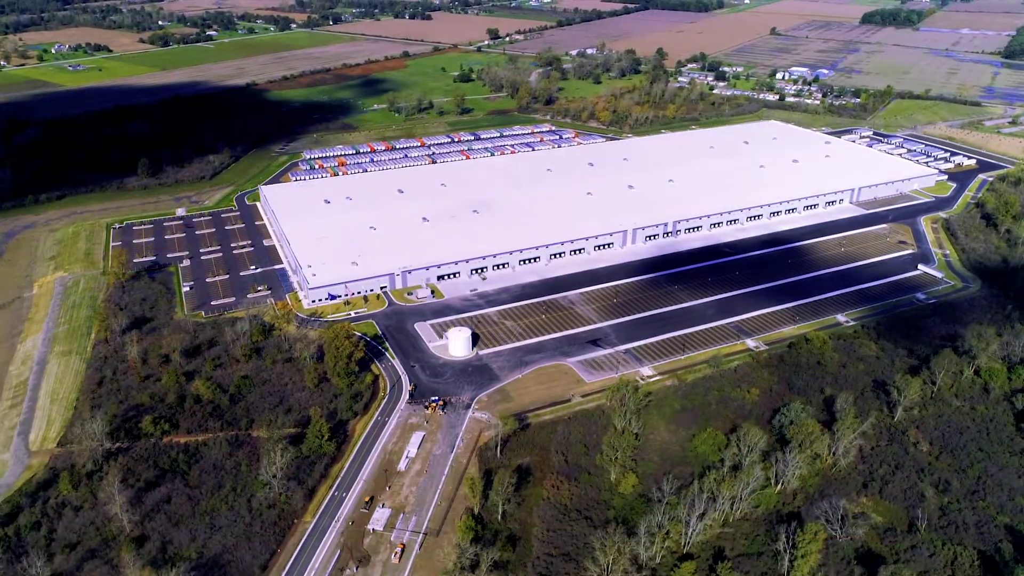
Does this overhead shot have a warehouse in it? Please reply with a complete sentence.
Yes, the photo shows a warehouse.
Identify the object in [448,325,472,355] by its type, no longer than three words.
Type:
water tank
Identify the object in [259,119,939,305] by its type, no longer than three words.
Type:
warehouse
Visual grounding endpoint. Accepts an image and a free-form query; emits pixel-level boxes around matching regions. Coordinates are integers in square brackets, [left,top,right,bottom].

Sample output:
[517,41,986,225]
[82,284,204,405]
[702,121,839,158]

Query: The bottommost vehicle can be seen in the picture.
[390,541,406,560]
